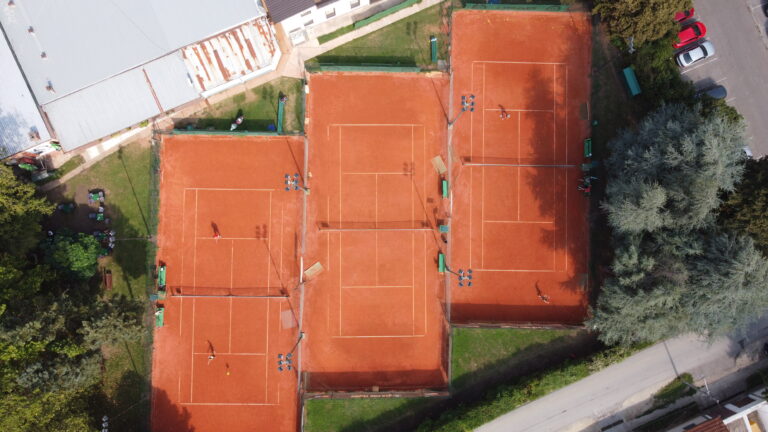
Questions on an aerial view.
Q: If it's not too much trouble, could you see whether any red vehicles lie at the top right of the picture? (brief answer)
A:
Yes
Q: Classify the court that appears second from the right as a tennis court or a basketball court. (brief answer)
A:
tennis court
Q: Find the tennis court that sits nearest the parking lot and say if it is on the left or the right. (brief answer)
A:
right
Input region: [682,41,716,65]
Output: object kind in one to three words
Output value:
car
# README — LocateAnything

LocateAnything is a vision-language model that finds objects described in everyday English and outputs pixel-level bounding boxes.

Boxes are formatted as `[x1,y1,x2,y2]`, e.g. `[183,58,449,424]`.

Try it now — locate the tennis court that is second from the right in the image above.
[304,72,448,388]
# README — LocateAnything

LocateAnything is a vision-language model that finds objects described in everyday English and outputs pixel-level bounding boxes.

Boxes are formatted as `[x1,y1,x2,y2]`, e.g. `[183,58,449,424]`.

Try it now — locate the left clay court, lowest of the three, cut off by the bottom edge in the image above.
[152,134,304,432]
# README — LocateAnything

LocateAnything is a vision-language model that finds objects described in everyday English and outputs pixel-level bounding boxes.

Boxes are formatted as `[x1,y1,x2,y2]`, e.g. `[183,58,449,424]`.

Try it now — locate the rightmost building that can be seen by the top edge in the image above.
[269,0,404,57]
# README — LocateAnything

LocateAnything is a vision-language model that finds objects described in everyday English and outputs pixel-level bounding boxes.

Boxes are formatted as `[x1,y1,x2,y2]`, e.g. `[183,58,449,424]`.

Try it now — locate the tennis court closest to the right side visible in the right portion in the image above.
[450,10,592,323]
